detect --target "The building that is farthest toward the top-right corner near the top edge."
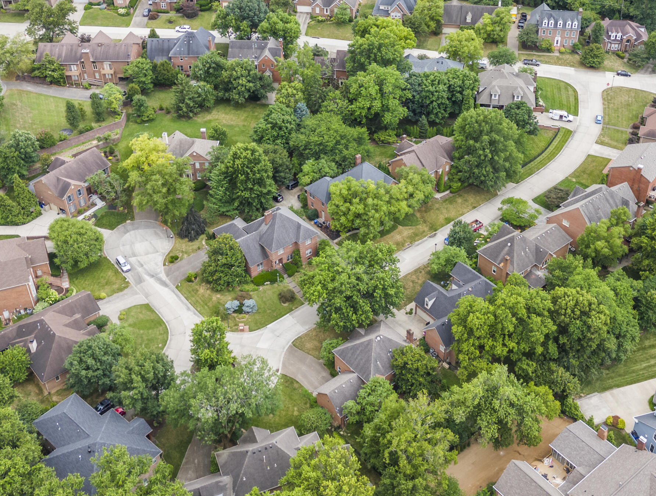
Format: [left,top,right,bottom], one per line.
[583,19,645,54]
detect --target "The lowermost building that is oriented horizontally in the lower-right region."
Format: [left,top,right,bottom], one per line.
[490,422,656,496]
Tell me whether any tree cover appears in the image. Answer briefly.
Yes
